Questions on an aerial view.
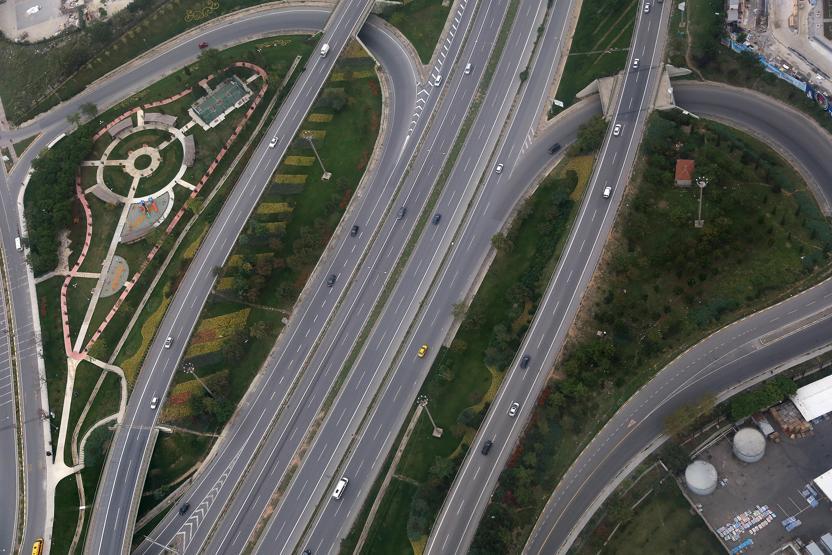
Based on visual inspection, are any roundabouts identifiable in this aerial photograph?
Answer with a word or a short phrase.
No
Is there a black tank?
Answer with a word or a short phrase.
No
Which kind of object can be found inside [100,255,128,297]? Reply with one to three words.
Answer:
playground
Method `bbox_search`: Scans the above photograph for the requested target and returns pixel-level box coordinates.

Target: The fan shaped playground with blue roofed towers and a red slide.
[120,192,170,244]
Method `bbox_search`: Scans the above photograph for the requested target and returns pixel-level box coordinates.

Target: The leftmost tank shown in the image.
[685,460,718,496]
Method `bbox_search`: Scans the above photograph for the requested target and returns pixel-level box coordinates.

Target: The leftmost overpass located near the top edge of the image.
[311,0,404,67]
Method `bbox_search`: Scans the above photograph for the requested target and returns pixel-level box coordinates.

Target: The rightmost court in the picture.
[193,77,249,124]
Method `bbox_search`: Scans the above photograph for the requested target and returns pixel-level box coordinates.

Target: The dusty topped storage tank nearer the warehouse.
[732,427,766,465]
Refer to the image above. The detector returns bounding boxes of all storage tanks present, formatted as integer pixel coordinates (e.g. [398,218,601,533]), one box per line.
[732,427,766,465]
[685,460,718,496]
